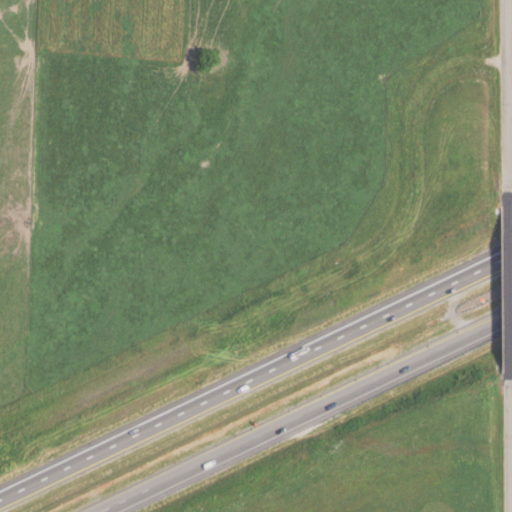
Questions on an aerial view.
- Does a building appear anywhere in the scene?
No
